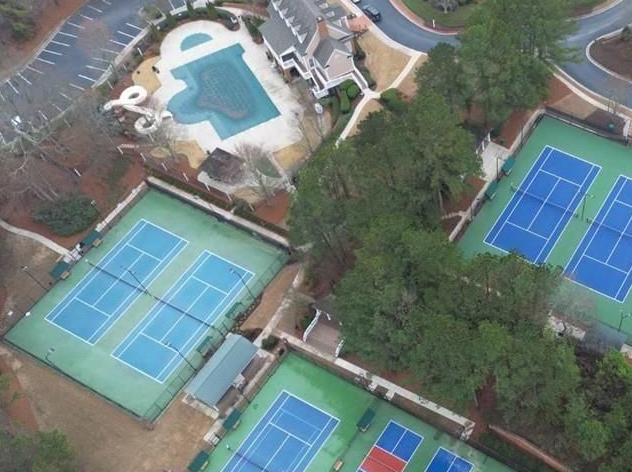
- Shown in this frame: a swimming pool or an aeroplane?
swimming pool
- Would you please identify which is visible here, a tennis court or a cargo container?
tennis court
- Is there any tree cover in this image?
Yes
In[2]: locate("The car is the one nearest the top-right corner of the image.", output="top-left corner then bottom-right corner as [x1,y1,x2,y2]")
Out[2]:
[361,3,381,19]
